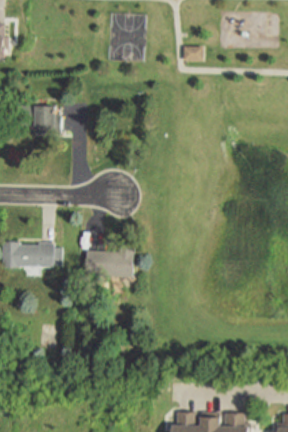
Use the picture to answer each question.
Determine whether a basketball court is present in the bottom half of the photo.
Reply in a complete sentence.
No, no basketball court appears in the bottom half of the photo.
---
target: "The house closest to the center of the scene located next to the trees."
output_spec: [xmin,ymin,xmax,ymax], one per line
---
[86,249,136,278]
